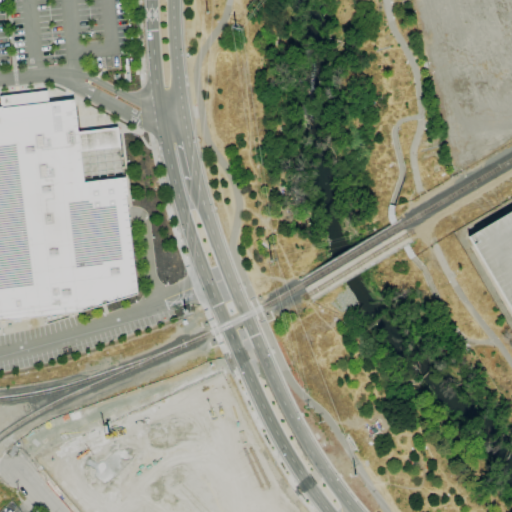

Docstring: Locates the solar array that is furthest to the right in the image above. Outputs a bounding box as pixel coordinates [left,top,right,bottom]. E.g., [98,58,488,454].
[70,202,123,265]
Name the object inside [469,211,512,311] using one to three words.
building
